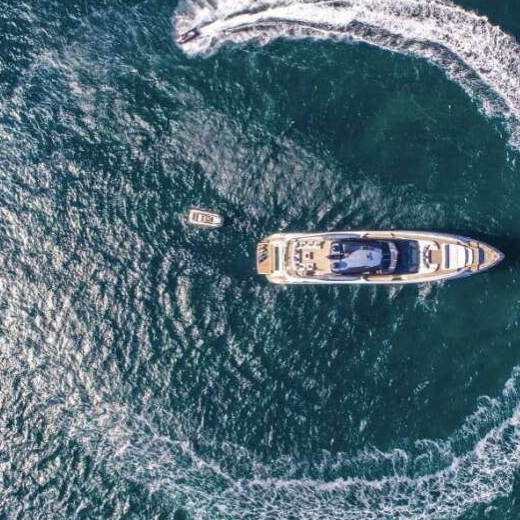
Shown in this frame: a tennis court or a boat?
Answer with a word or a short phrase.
boat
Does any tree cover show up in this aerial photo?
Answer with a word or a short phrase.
No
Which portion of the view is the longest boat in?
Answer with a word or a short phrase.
right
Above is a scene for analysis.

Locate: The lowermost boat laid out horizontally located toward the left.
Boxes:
[189,210,222,226]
